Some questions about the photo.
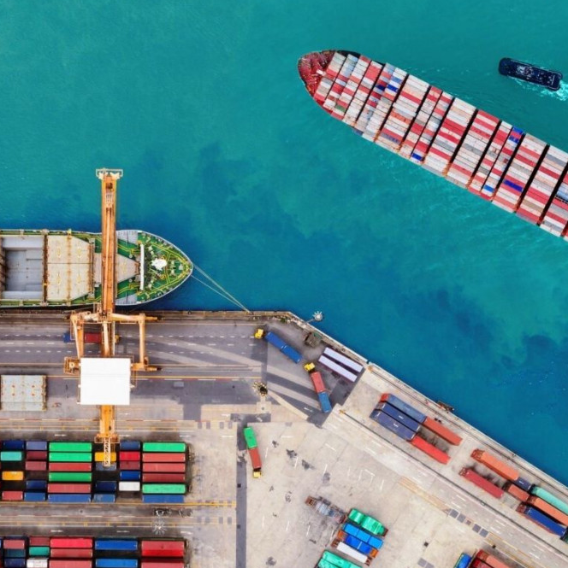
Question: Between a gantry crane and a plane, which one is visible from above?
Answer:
gantry crane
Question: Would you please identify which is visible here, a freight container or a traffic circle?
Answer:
freight container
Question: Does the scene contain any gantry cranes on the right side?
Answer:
No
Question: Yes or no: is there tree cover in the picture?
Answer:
No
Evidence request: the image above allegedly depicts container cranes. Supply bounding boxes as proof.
[68,167,163,468]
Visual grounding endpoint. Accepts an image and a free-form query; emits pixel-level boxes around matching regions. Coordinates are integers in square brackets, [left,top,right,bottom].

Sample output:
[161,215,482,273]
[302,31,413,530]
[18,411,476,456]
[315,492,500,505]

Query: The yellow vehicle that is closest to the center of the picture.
[253,328,271,341]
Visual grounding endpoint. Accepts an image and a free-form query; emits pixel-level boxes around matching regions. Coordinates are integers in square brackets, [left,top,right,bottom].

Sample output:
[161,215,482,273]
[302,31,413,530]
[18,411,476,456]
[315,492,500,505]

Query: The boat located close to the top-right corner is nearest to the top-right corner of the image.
[496,58,564,94]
